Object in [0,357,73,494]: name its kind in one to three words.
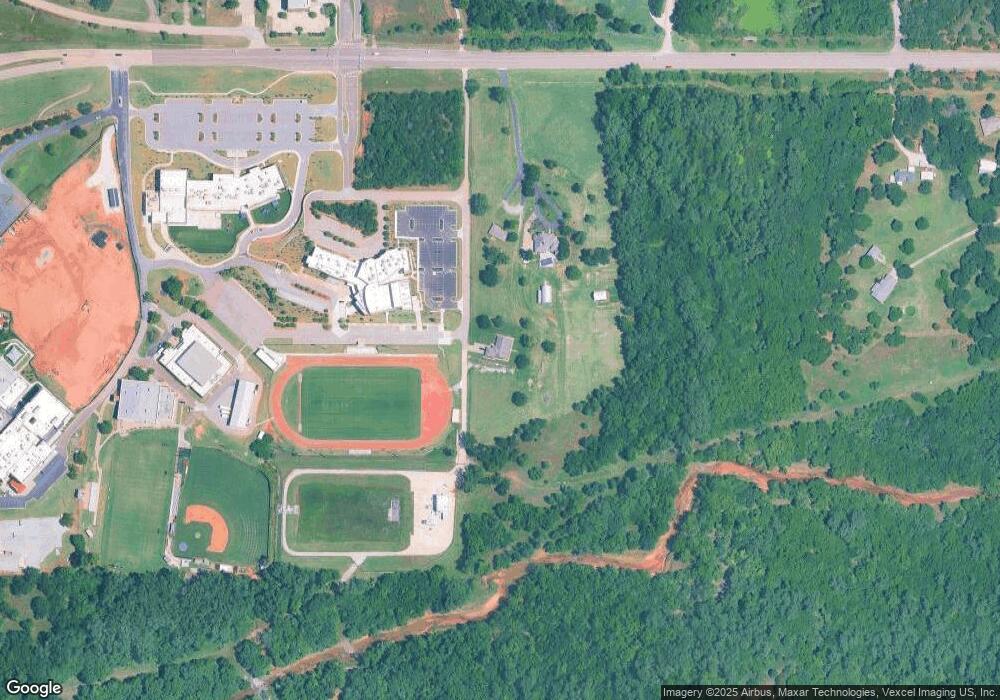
building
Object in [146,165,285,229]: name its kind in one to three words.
building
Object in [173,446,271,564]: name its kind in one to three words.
baseball field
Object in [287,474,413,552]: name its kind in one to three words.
sports field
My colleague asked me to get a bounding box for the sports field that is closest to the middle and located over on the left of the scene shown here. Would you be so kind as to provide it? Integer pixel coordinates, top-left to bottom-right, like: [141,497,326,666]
[301,367,421,440]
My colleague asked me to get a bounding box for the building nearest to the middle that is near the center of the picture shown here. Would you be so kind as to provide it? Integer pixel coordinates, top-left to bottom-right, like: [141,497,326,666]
[487,336,514,359]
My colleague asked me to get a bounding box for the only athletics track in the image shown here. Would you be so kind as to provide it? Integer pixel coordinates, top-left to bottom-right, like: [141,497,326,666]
[271,356,453,448]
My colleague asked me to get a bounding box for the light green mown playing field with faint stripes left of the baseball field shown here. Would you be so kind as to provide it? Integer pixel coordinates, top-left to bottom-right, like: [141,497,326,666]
[101,428,179,571]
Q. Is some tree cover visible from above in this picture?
Yes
